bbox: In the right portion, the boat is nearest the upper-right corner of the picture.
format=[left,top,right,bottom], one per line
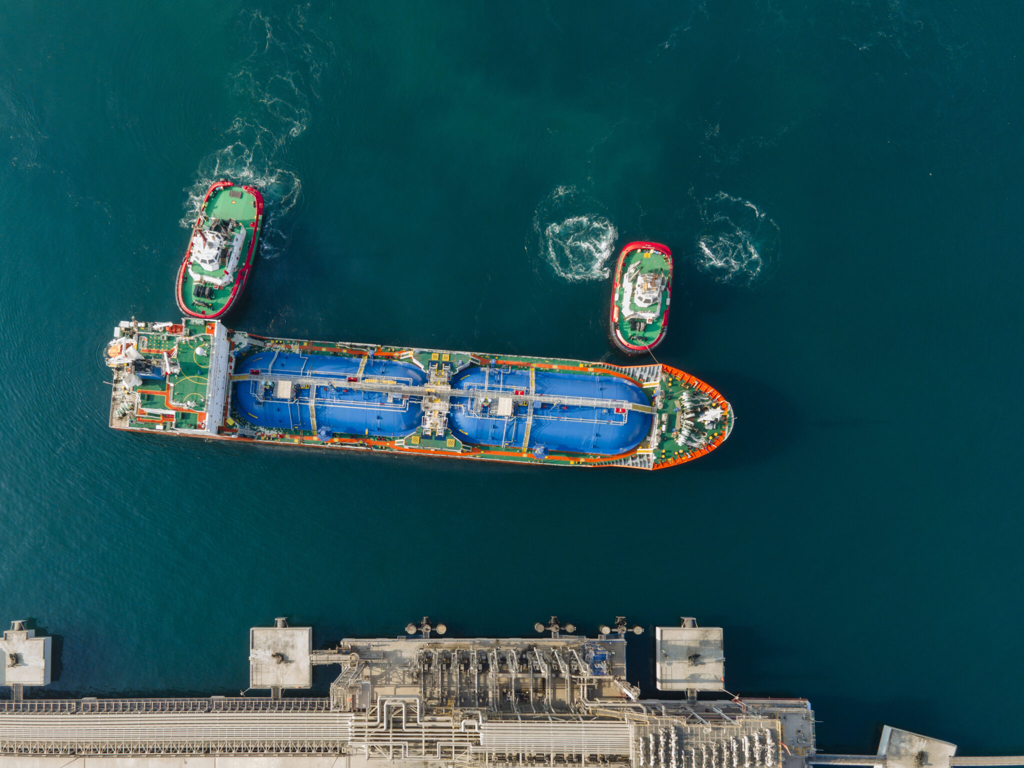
[608,241,673,357]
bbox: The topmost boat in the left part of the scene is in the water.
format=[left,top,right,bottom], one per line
[173,178,263,322]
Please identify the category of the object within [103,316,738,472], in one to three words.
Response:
ship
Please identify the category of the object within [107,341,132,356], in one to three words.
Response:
boat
